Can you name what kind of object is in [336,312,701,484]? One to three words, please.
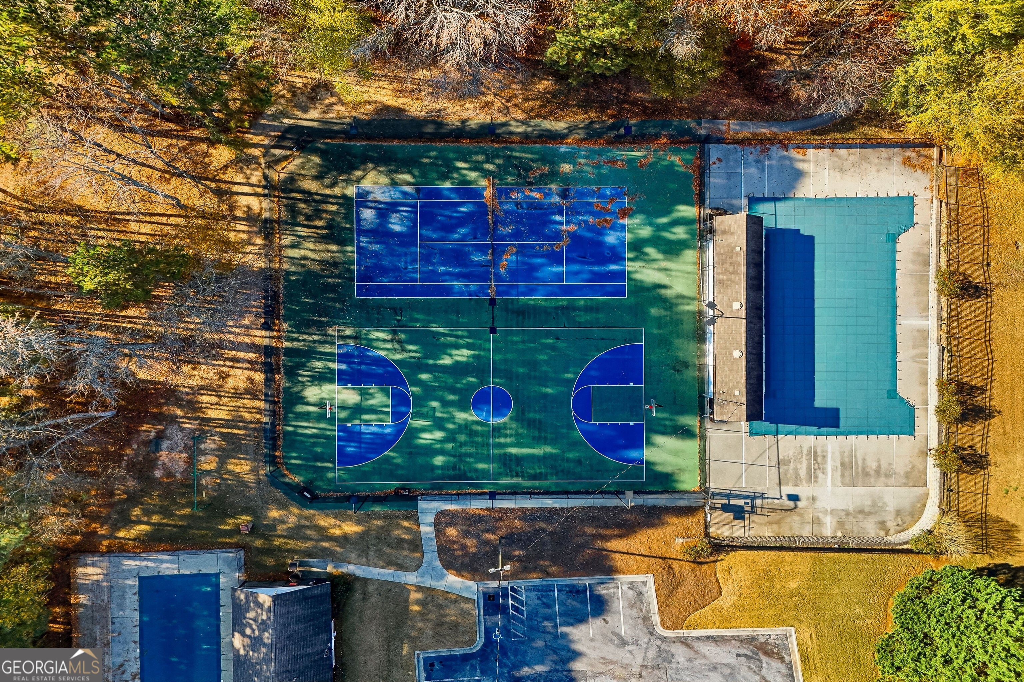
basketball court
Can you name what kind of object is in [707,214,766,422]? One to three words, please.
building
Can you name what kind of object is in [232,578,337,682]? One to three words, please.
building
